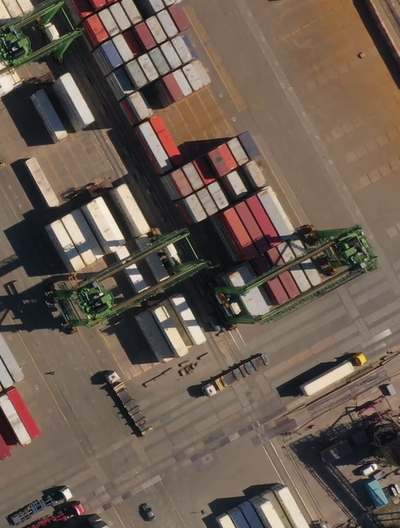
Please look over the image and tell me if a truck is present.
Yes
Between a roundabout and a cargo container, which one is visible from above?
cargo container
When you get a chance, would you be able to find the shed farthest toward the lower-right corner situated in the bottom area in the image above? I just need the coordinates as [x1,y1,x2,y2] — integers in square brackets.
[363,478,389,506]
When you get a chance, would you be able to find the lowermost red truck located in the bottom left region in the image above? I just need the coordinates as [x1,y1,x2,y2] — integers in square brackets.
[28,502,90,528]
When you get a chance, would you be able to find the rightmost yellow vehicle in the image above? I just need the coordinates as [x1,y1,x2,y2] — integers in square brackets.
[350,352,373,370]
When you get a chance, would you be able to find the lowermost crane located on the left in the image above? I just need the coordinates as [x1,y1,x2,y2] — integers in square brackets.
[48,227,205,336]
